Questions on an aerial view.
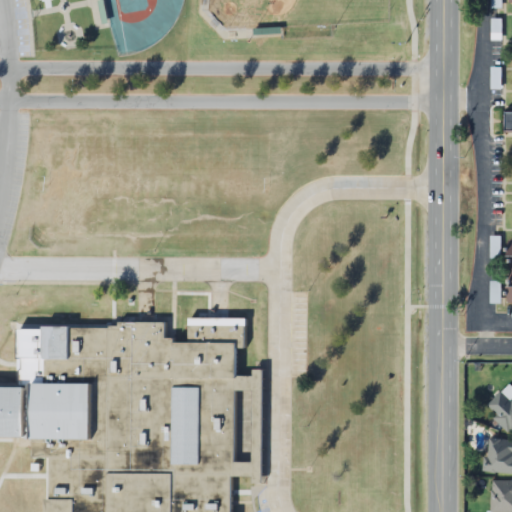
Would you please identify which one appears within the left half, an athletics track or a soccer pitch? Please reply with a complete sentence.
The one visible within the left half is a soccer pitch.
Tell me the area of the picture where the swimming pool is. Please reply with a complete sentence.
You can find the swimming pool in the bottom right area of the picture.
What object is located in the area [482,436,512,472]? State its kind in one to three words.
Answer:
house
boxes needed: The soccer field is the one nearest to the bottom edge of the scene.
[40,113,268,246]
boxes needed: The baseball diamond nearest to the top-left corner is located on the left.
[106,0,185,52]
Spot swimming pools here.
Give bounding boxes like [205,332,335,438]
[468,420,495,454]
